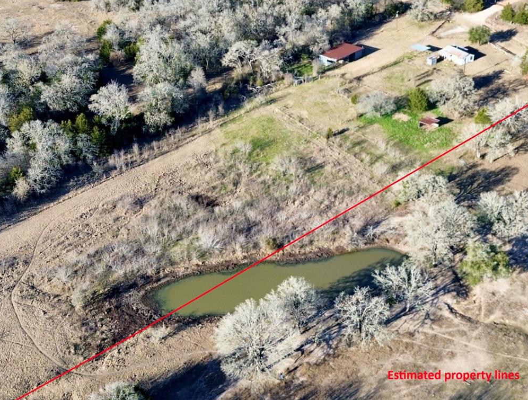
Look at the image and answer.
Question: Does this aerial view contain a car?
No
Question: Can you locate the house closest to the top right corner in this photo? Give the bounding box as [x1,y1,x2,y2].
[439,42,476,65]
